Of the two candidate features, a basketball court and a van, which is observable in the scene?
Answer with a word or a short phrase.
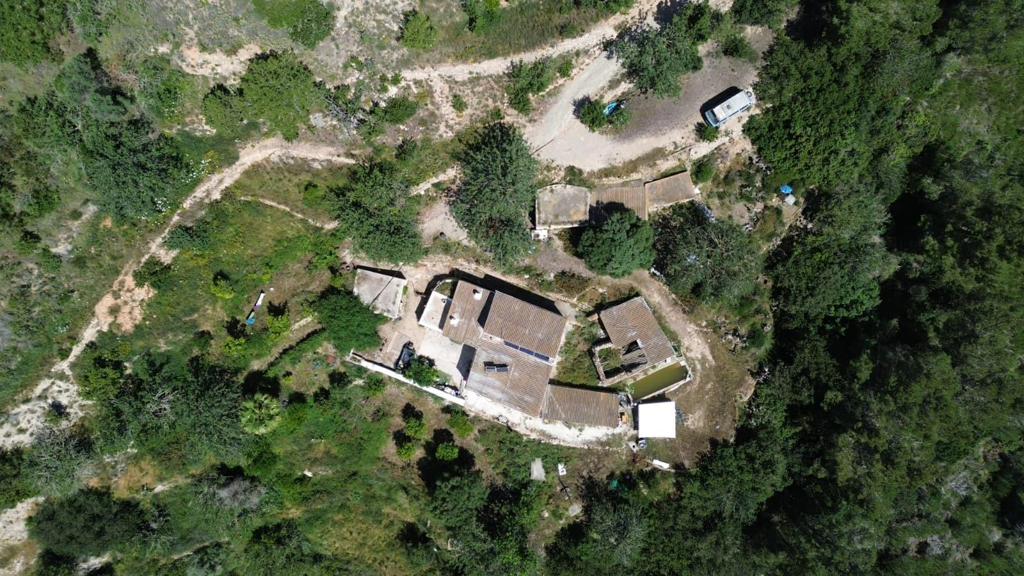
van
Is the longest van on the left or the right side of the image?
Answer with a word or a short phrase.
right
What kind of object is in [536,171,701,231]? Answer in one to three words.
shed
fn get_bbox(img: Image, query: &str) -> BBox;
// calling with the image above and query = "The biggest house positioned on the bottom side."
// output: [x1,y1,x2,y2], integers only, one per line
[419,279,619,428]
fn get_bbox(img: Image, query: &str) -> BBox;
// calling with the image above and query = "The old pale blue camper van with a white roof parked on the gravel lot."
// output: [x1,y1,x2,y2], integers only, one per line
[700,88,756,127]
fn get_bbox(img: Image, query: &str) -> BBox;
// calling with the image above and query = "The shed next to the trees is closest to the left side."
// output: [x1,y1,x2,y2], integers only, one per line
[353,268,409,319]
